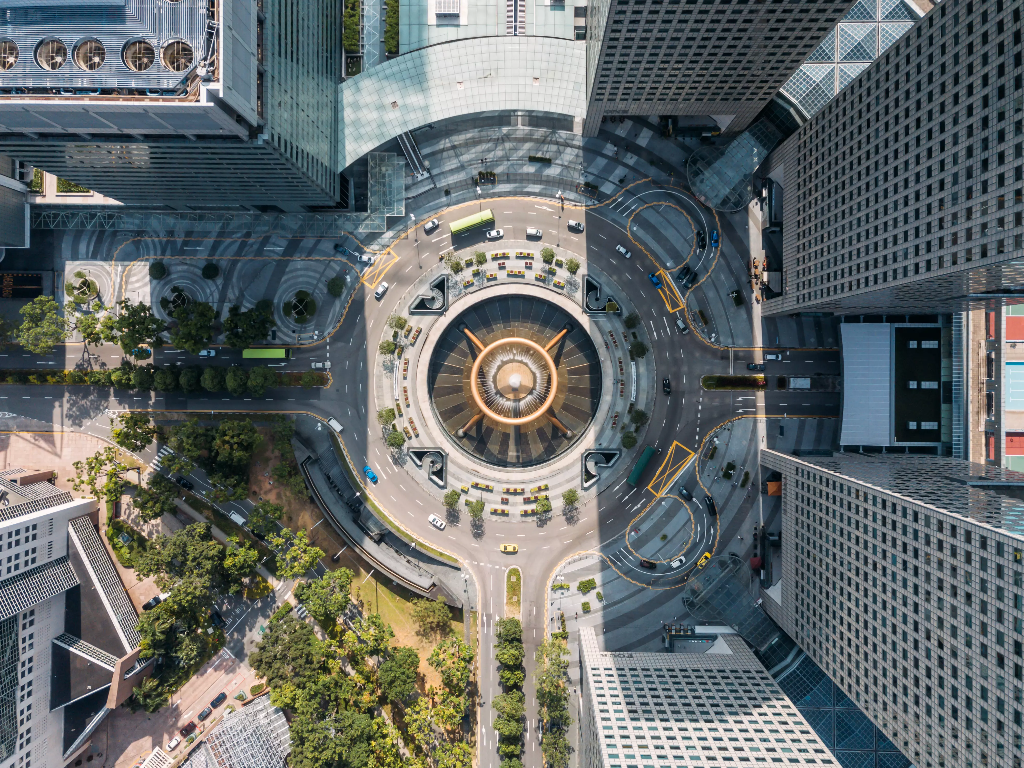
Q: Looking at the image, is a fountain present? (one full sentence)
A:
Yes, you can see a fountain in this photo.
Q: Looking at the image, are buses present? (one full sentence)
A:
Yes, this view includes a bus.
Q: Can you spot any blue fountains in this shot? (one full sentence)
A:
No, I find no blue fountain anywhere in the image.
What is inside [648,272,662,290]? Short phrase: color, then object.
blue car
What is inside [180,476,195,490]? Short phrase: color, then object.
black car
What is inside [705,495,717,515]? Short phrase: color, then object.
black vehicle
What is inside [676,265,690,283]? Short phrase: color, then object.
black car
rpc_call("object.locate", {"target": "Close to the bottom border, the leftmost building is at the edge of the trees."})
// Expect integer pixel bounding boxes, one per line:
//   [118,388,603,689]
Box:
[0,466,175,768]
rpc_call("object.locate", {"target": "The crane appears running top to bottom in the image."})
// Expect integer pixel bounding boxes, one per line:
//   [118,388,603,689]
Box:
[194,19,216,85]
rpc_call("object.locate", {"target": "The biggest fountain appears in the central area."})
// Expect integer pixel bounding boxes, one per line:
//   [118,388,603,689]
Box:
[423,289,606,472]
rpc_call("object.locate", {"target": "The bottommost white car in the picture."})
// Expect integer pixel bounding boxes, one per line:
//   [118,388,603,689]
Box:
[165,736,181,751]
